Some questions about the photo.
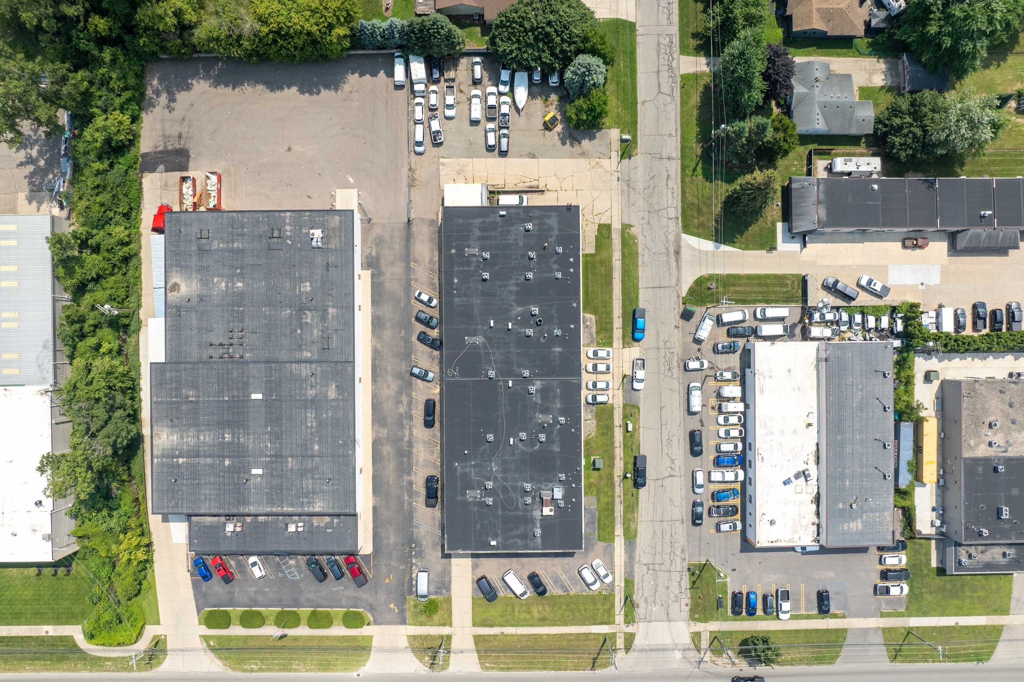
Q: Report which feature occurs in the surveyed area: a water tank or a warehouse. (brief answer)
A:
warehouse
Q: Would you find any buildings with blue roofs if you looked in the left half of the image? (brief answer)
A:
No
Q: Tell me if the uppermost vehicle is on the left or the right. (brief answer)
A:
right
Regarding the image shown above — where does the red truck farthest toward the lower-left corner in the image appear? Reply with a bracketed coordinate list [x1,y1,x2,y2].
[211,555,235,586]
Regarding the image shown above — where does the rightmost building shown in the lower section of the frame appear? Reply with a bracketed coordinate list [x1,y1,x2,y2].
[917,378,1024,575]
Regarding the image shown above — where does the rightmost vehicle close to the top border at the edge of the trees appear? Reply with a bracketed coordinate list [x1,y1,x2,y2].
[872,0,910,29]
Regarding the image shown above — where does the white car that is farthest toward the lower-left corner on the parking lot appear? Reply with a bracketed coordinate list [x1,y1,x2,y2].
[248,555,266,581]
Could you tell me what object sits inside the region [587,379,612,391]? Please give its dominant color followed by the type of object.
white vehicle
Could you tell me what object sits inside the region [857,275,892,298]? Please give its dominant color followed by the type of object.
white truck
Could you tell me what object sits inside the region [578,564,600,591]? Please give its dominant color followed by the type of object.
white car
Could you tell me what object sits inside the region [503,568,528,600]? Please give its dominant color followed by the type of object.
white vehicle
